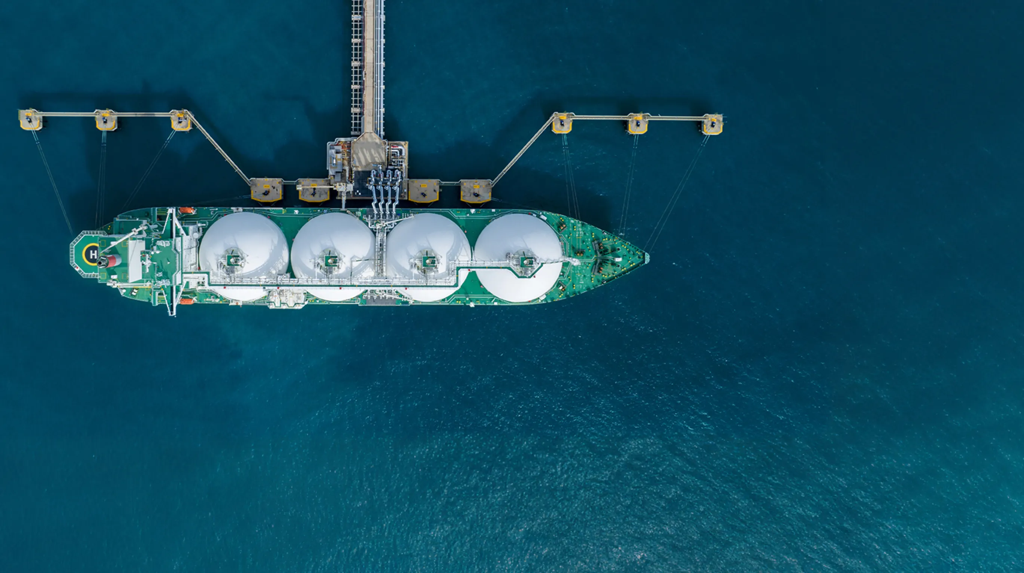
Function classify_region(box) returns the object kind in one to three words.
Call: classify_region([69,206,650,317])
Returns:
ship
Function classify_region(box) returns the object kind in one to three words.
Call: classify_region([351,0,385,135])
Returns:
pier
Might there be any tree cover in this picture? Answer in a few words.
No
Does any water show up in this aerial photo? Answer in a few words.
Yes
